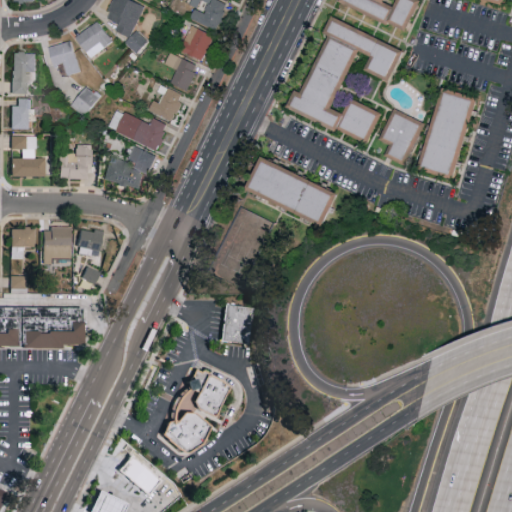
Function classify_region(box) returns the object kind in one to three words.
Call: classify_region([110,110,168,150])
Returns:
house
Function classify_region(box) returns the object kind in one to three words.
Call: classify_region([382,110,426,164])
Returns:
building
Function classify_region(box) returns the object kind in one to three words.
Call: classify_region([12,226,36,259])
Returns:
house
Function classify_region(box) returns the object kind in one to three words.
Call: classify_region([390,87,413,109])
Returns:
swimming pool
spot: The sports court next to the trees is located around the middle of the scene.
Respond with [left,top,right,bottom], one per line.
[214,206,276,284]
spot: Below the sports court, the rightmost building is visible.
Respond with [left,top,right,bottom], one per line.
[222,302,254,346]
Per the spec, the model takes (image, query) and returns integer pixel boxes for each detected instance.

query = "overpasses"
[418,320,512,420]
